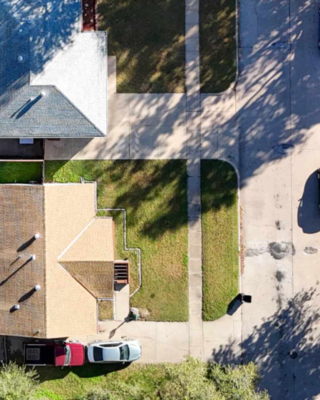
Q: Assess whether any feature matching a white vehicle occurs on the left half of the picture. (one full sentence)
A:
Yes, you'll find a white vehicle on the left half of the picture.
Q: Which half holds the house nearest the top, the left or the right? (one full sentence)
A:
The house nearest the top is on the left side of the image.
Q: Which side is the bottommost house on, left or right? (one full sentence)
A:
The bottommost house sits on the left side.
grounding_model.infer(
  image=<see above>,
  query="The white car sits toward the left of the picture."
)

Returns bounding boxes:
[83,339,140,366]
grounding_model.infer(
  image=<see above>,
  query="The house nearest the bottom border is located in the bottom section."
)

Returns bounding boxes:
[0,182,116,339]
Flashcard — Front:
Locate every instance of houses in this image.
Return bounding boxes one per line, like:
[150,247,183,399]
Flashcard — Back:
[0,182,116,339]
[0,0,109,139]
